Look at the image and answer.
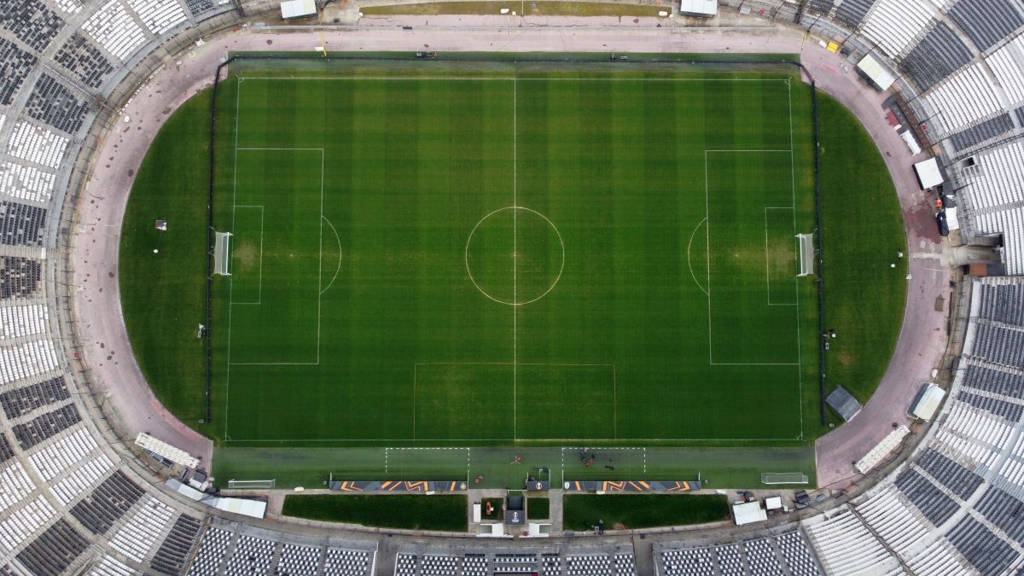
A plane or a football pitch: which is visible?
football pitch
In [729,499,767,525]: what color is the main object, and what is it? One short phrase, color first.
white tent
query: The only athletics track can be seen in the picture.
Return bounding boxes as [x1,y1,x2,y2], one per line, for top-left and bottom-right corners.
[74,16,952,490]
